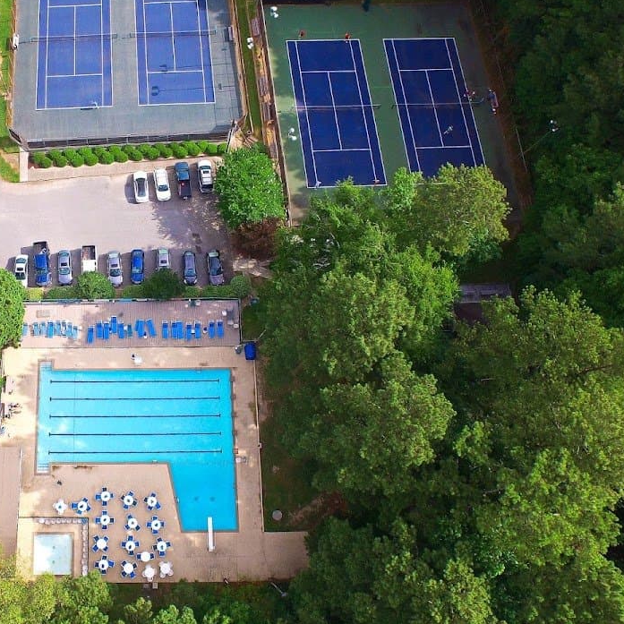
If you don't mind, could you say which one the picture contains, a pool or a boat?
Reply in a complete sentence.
The image shows a pool.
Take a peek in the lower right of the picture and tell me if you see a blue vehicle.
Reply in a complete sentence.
No, no blue vehicle is visible in the lower right of the picture.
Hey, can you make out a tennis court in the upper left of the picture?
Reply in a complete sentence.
Yes, looking in the upper left of the picture, one can make out a tennis court.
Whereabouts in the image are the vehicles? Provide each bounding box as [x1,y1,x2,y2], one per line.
[80,244,96,273]
[153,167,170,201]
[107,250,124,287]
[132,170,149,205]
[197,159,214,194]
[155,248,170,282]
[57,249,73,285]
[175,160,193,199]
[13,253,29,288]
[182,251,198,285]
[129,249,146,284]
[33,240,50,286]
